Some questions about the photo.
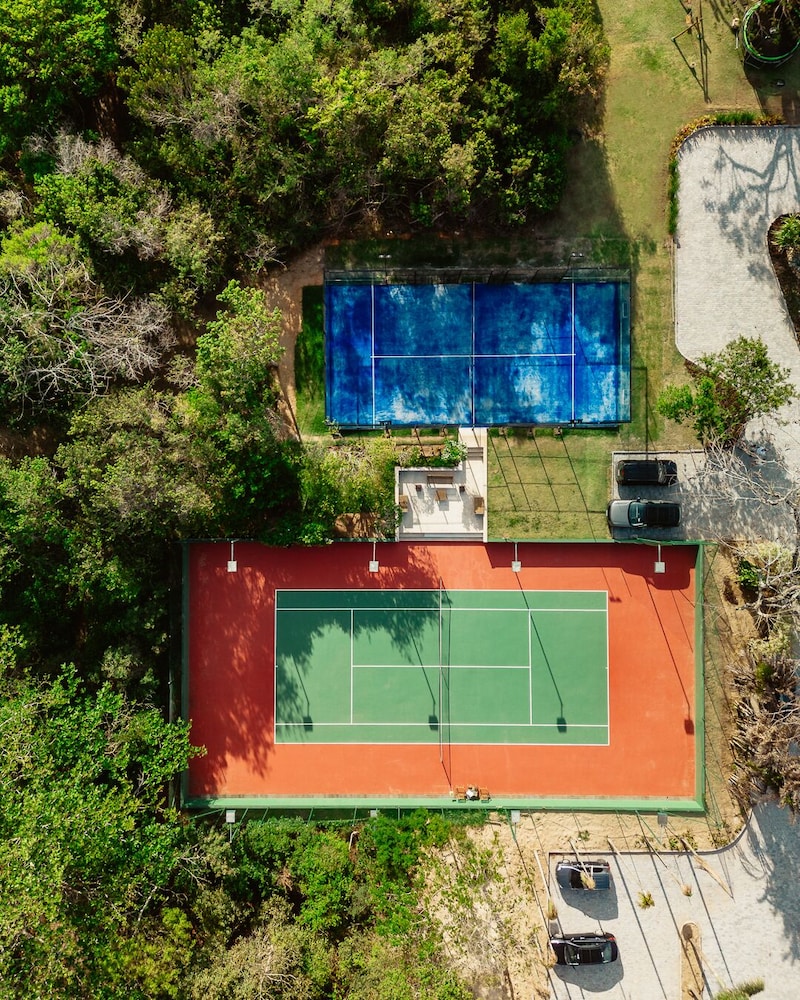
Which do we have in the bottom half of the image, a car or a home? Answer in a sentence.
Looking in the bottom half of the image, you will find a car.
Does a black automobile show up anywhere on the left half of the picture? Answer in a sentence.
No, looking on the left half of the picture, there is no black automobile.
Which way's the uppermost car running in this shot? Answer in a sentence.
I'd say the uppermost car is aligned horizontally in the picture.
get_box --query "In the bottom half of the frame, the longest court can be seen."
[189,541,695,797]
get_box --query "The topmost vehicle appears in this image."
[613,457,678,489]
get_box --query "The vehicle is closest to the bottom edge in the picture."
[550,930,619,970]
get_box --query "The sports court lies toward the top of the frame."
[322,268,632,438]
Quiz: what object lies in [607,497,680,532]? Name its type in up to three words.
car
